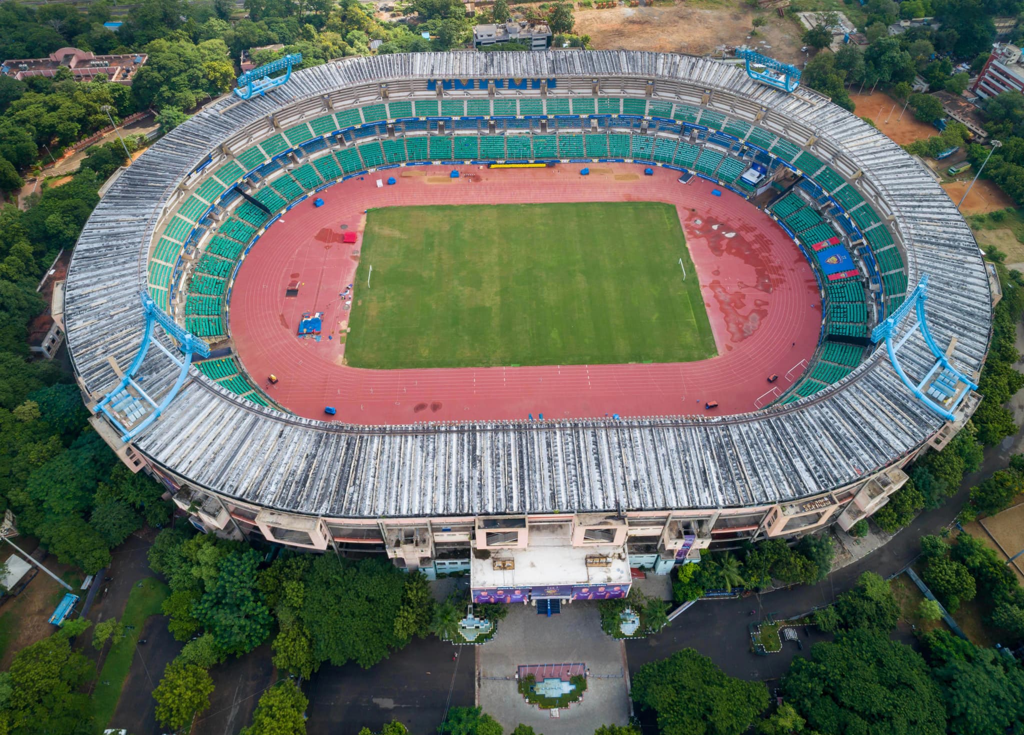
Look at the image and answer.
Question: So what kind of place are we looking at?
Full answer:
This image shows a sports ground.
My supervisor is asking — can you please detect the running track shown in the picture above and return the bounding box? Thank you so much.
[228,164,824,425]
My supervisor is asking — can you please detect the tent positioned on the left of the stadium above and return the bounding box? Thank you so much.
[0,554,39,596]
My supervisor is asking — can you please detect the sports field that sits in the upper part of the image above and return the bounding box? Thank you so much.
[345,199,717,369]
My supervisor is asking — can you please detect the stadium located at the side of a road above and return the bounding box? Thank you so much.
[45,45,1007,588]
